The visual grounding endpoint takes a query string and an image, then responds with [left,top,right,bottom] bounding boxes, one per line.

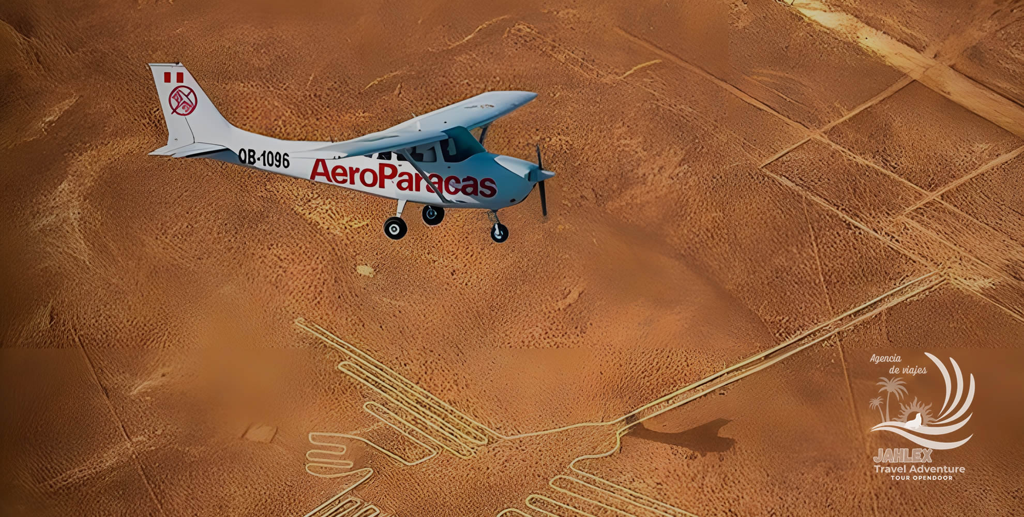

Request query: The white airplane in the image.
[146,62,555,242]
